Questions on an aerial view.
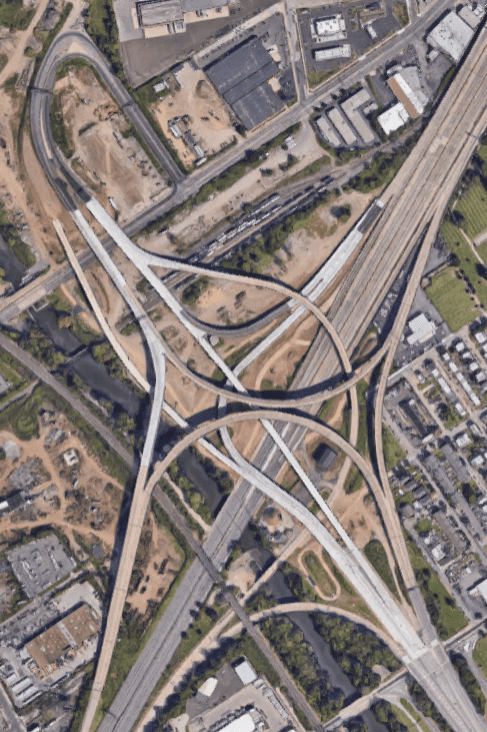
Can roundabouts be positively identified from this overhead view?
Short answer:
No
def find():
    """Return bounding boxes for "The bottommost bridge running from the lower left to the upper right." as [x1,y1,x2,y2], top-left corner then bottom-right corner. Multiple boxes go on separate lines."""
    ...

[320,690,378,732]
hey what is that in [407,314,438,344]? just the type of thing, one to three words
building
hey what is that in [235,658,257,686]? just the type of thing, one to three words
building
